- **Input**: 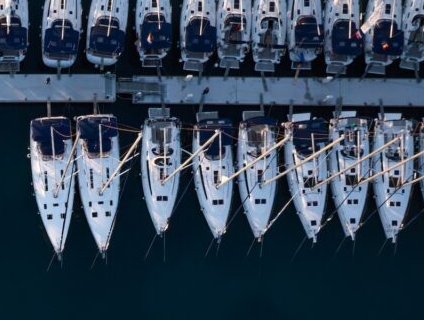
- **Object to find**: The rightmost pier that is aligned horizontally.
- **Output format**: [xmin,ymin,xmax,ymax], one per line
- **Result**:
[132,76,424,108]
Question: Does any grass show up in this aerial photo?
No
